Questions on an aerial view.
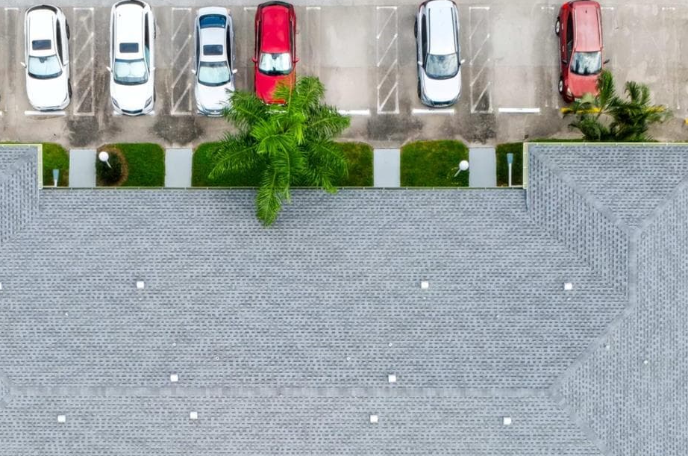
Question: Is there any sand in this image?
No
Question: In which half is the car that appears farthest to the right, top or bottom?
top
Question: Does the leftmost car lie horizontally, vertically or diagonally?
vertically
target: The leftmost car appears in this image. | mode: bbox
[19,7,71,114]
